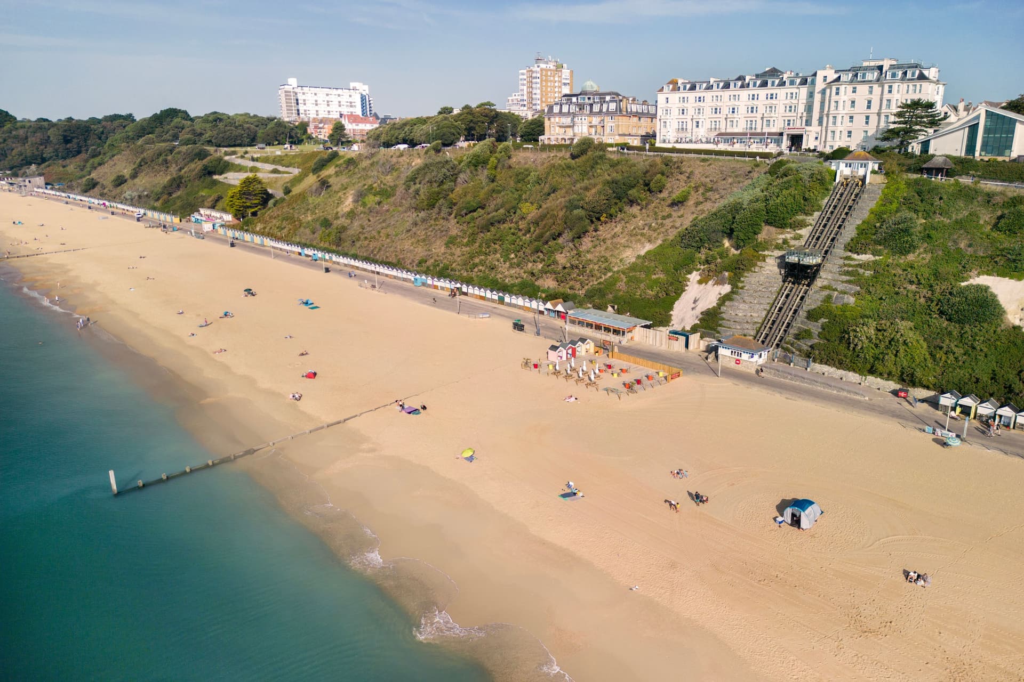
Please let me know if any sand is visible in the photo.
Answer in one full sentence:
Yes, some sand is visible.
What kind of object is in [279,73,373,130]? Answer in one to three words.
building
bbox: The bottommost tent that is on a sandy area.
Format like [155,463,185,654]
[784,500,831,531]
